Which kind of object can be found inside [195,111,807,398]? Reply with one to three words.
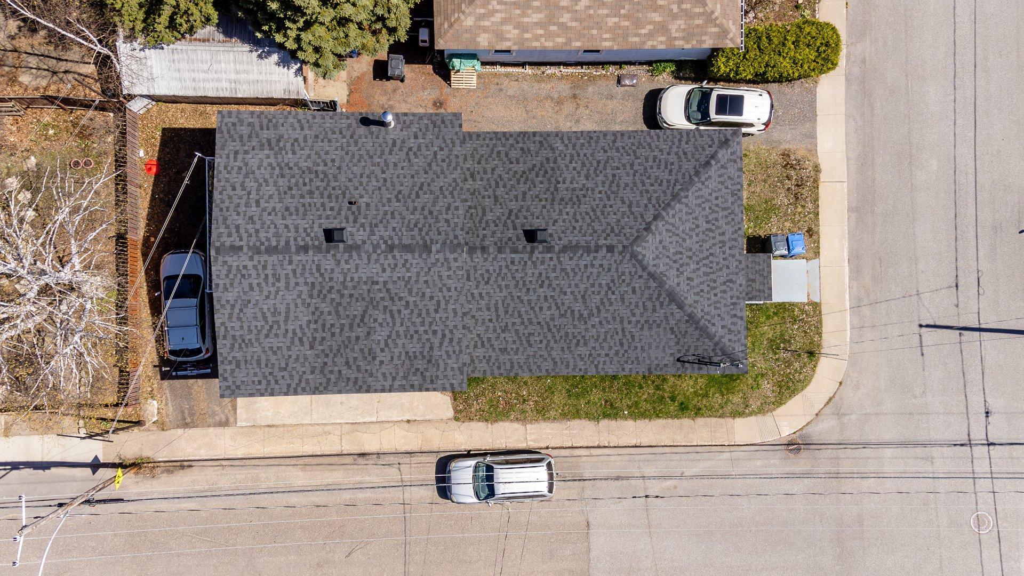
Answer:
house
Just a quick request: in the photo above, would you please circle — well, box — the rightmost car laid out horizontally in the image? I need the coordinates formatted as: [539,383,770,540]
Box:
[656,79,773,138]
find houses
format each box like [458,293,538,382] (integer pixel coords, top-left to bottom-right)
[195,111,807,398]
[433,0,743,70]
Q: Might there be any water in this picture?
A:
No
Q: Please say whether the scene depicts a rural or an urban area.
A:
urban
